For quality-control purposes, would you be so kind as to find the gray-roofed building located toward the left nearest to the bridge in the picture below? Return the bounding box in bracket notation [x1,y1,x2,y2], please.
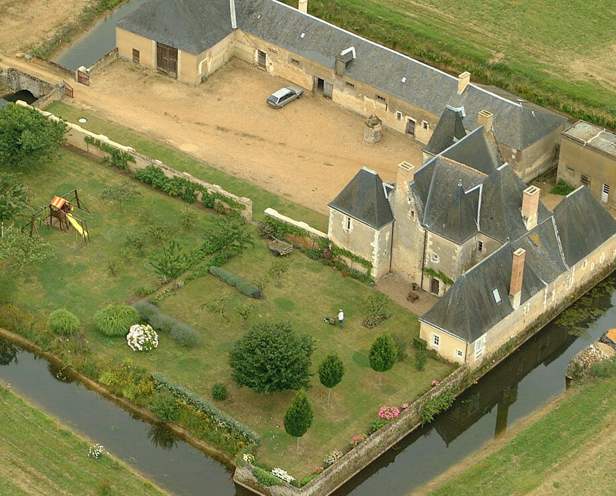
[112,0,238,86]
